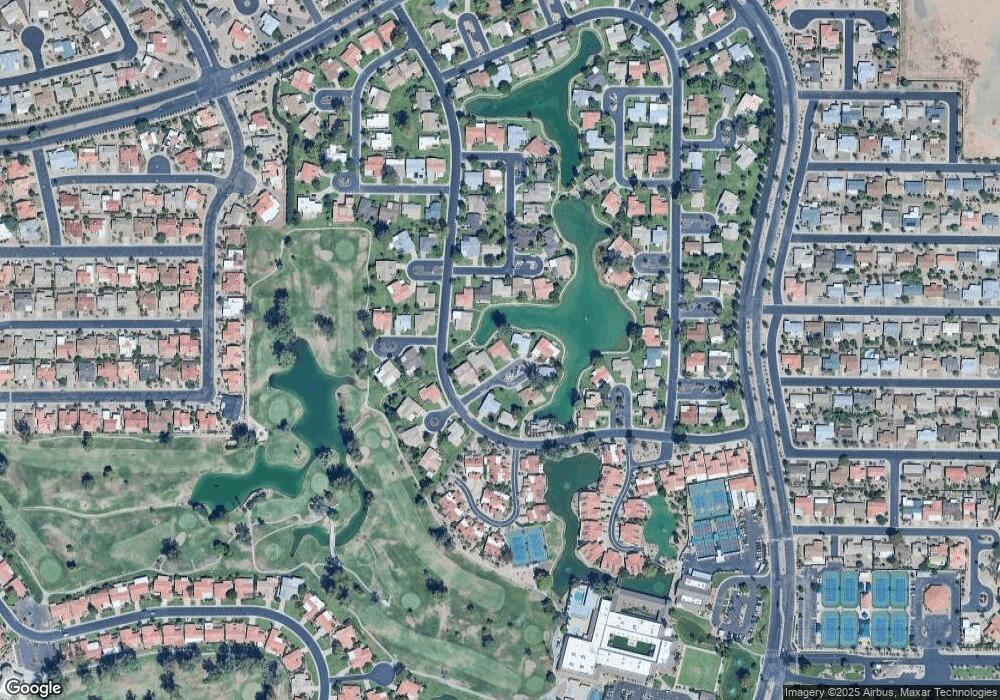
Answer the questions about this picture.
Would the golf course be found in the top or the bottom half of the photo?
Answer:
bottom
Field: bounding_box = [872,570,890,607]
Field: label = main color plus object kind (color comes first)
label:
blue tennis court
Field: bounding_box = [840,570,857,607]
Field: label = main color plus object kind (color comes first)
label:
blue tennis court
